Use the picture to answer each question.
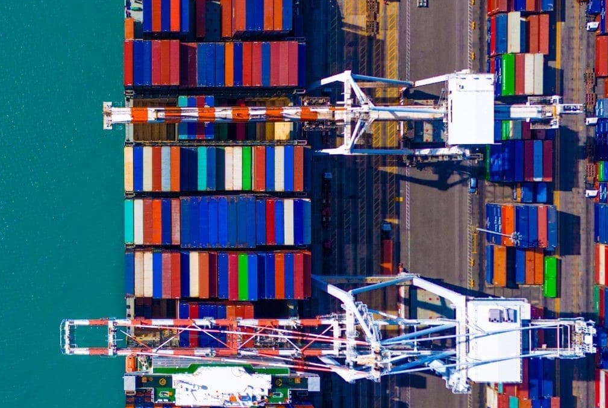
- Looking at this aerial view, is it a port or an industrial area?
port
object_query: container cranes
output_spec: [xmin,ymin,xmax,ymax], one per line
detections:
[57,255,599,394]
[103,70,582,168]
